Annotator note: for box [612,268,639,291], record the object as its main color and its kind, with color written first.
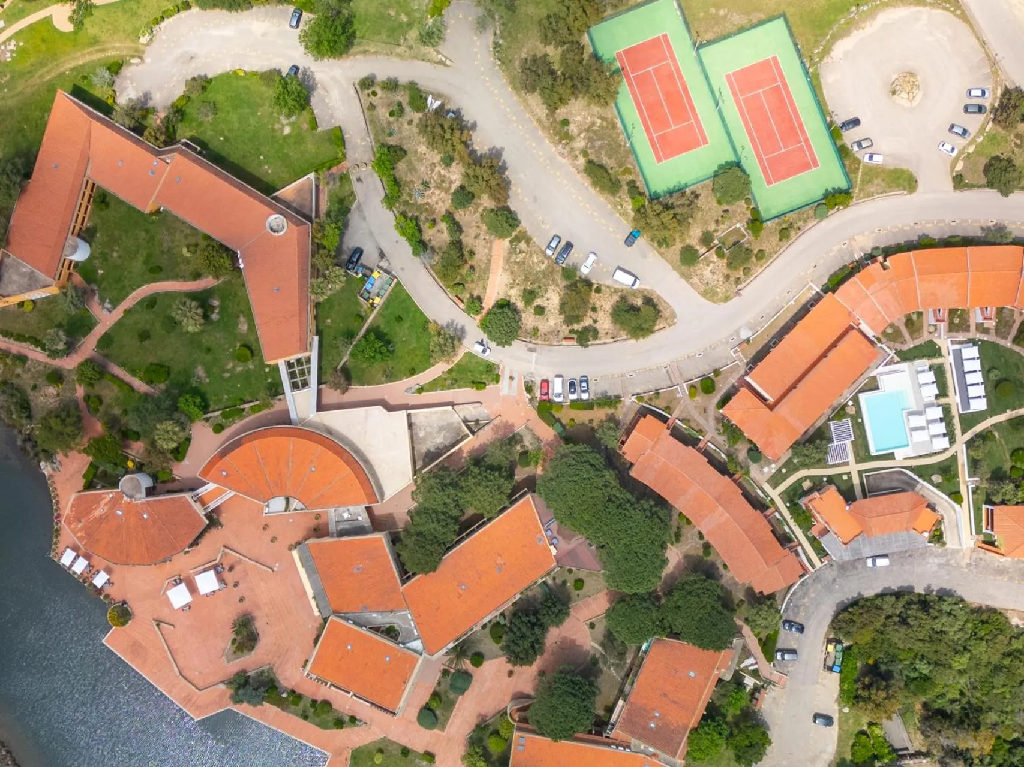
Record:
white vehicle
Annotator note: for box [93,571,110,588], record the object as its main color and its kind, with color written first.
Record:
white umbrella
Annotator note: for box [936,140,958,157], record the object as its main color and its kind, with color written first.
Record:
white car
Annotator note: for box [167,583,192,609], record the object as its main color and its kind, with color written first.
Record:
white umbrella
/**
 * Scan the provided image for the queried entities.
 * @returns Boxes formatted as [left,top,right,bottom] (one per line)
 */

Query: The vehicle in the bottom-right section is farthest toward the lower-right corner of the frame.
[811,712,833,727]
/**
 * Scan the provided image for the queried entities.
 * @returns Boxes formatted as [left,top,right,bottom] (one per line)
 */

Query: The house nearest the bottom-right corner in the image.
[971,504,1024,558]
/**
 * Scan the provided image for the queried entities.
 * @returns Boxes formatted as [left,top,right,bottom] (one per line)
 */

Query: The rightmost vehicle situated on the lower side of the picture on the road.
[865,556,889,568]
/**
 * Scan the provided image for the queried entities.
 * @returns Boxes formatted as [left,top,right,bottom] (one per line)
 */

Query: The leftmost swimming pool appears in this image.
[858,358,946,460]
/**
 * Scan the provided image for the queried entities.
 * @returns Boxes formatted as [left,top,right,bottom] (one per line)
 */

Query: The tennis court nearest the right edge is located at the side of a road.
[701,10,856,221]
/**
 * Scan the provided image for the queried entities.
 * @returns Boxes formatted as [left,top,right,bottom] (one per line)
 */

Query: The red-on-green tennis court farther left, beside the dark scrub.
[589,0,743,198]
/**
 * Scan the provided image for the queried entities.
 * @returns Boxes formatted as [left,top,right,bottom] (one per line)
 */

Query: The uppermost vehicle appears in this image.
[289,8,303,30]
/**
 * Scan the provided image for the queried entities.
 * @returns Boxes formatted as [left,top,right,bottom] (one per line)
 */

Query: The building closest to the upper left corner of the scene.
[0,89,316,364]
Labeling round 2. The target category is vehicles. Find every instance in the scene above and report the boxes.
[568,379,577,400]
[811,712,833,727]
[625,229,640,249]
[445,110,456,119]
[545,234,562,256]
[936,140,958,157]
[580,251,598,274]
[553,376,564,402]
[947,123,970,140]
[556,240,574,265]
[850,137,873,152]
[865,556,889,568]
[838,116,861,133]
[863,153,883,164]
[781,619,804,634]
[286,64,300,79]
[612,268,639,291]
[962,103,985,115]
[346,246,364,271]
[540,381,549,400]
[775,649,797,661]
[289,8,303,30]
[579,377,589,399]
[474,340,492,357]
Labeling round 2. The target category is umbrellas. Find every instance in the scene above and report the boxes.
[167,583,192,609]
[195,570,219,595]
[93,571,110,588]
[61,549,78,566]
[73,557,90,574]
